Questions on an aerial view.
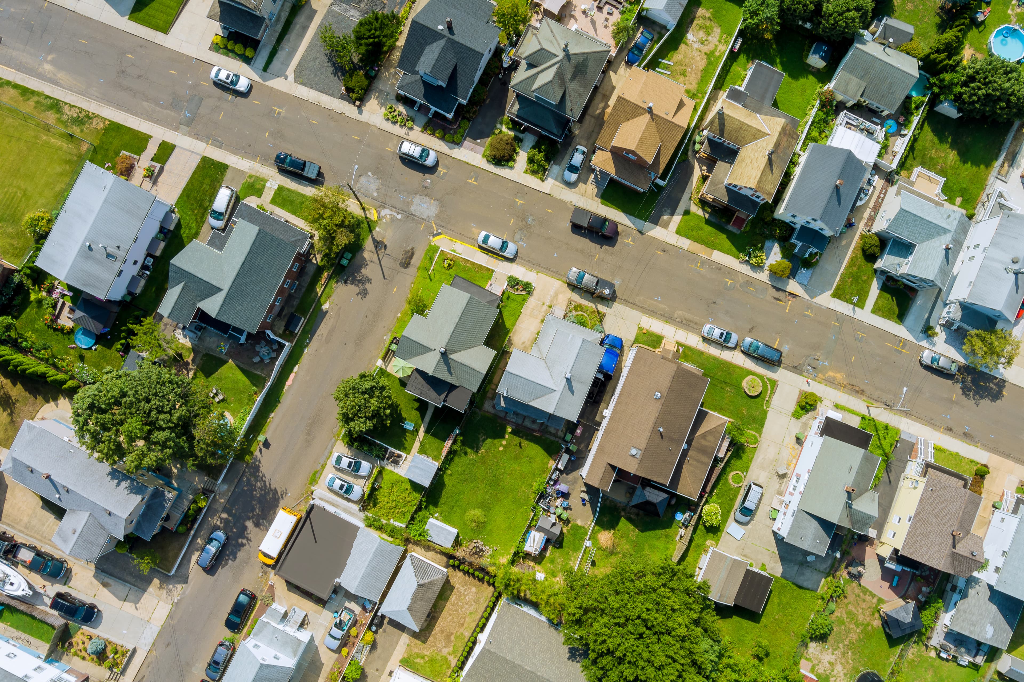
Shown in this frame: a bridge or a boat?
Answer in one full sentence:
Of the two, only a boat appears.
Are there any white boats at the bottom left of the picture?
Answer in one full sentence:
Yes, a white boat can be seen at the bottom left of the picture.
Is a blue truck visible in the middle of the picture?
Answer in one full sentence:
Yes, the scene does show a blue truck in the middle of the picture.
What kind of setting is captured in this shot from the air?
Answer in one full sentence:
This image shows a residential area.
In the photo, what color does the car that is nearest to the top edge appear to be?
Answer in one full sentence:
The car that is nearest to the top edge looks blue in the image.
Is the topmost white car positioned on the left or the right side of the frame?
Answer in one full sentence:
The topmost white car is on the left side of the image.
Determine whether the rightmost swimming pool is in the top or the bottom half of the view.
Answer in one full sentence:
You can find the rightmost swimming pool in the top half.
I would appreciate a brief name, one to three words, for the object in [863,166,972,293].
house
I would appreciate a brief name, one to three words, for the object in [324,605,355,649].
truck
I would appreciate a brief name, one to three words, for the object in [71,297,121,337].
gazebo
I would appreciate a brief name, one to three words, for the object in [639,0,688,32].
building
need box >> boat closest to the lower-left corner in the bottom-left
[0,568,40,599]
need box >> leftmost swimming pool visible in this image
[73,326,100,349]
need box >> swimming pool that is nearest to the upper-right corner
[986,23,1024,59]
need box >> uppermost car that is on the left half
[208,66,253,93]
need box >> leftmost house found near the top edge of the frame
[206,0,283,48]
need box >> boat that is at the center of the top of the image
[499,42,517,76]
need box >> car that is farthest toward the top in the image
[624,26,656,66]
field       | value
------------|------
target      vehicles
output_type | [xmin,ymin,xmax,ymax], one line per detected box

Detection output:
[844,222,857,227]
[588,330,627,399]
[207,183,239,229]
[46,590,99,625]
[7,542,69,577]
[565,267,616,298]
[205,638,235,681]
[274,148,323,177]
[730,479,765,522]
[257,504,303,567]
[624,26,656,66]
[700,321,738,345]
[225,587,257,632]
[917,349,960,375]
[323,472,365,499]
[396,140,438,168]
[324,605,355,649]
[329,451,373,477]
[569,208,618,238]
[476,231,518,258]
[564,143,589,186]
[739,338,785,366]
[208,66,253,93]
[195,529,230,572]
